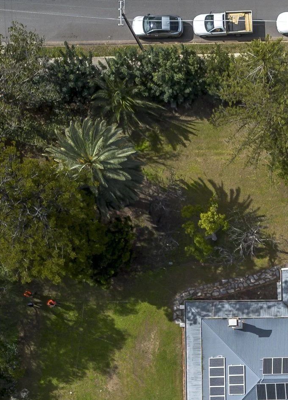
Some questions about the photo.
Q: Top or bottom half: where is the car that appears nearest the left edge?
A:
top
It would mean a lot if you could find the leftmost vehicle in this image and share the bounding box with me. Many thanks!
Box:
[133,12,184,41]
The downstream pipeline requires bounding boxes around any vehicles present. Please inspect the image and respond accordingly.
[276,12,288,36]
[133,12,184,41]
[193,10,253,38]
